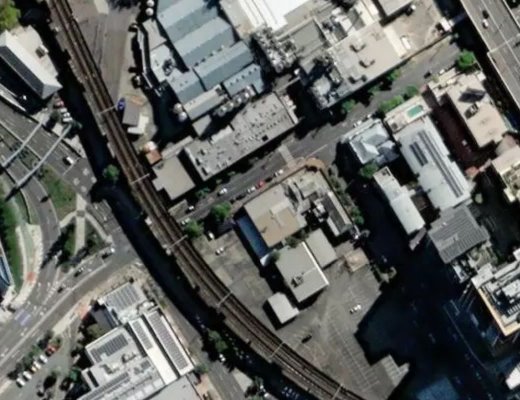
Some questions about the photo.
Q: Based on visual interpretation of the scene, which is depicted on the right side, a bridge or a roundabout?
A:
bridge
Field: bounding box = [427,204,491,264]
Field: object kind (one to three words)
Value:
building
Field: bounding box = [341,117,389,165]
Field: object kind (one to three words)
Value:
house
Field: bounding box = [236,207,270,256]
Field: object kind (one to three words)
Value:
shed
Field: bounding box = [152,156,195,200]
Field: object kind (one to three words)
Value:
building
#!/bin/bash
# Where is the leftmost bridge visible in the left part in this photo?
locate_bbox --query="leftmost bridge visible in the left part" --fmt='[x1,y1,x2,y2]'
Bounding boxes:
[46,0,364,400]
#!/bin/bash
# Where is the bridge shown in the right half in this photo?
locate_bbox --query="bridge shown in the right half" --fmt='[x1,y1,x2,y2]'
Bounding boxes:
[460,0,520,104]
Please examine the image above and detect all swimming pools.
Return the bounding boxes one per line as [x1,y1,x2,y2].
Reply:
[405,103,427,120]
